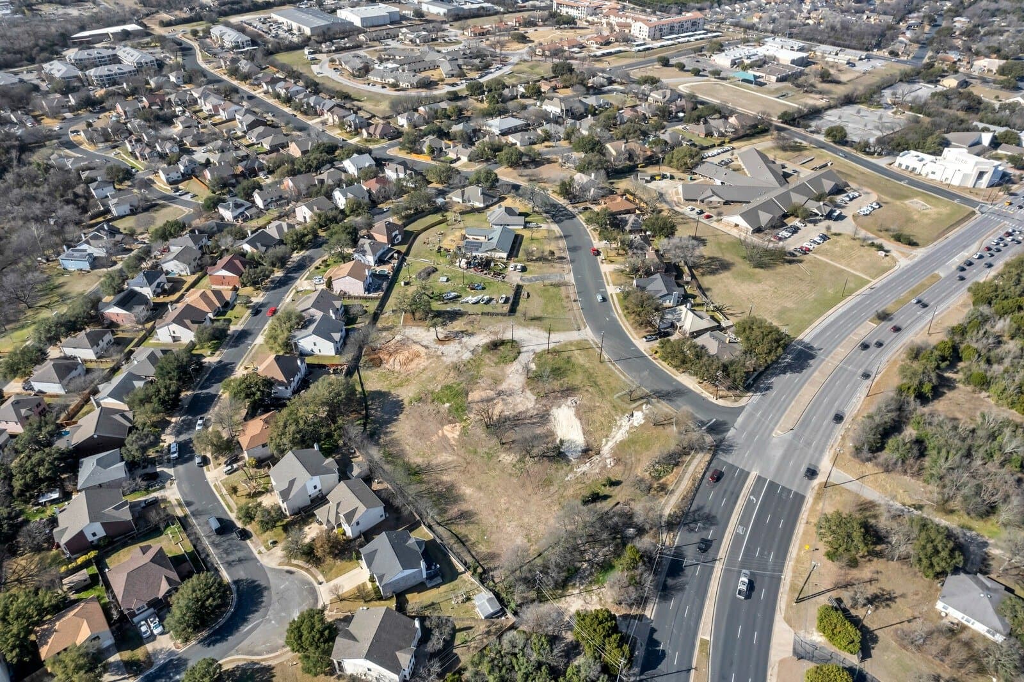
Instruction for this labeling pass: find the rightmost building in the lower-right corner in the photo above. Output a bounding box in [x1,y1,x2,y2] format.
[936,569,1013,640]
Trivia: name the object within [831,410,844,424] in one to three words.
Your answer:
vehicle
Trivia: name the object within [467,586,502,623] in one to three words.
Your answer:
shed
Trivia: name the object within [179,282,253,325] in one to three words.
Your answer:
house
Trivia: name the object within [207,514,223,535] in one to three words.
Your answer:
vehicle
